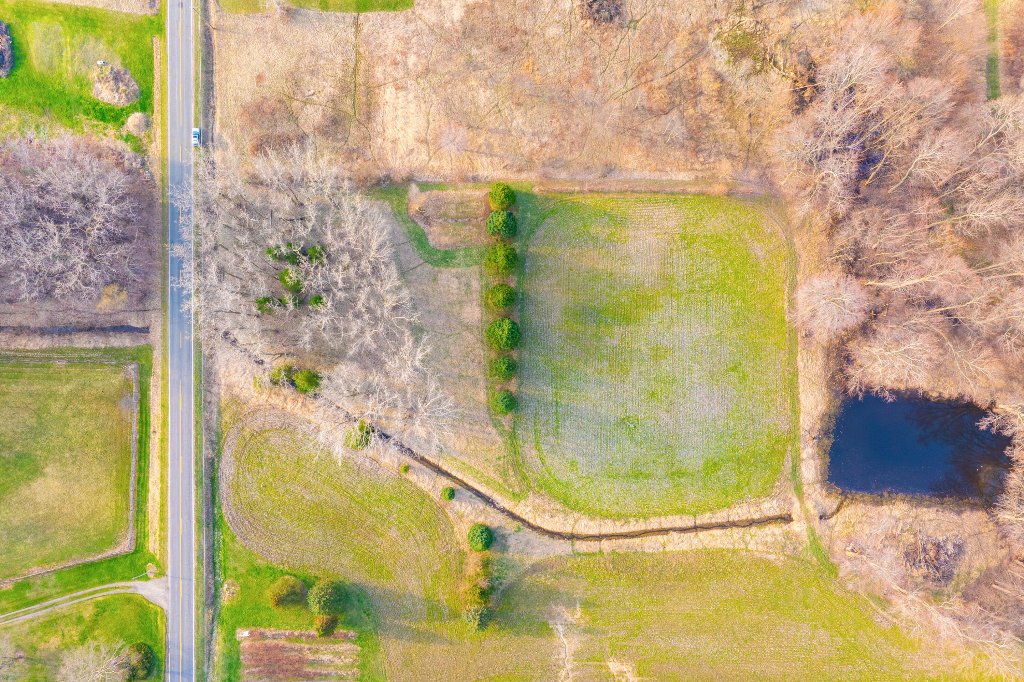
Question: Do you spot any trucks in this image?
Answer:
No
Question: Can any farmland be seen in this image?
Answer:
Yes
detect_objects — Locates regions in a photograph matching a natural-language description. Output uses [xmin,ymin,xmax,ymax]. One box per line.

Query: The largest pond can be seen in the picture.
[826,389,1022,504]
